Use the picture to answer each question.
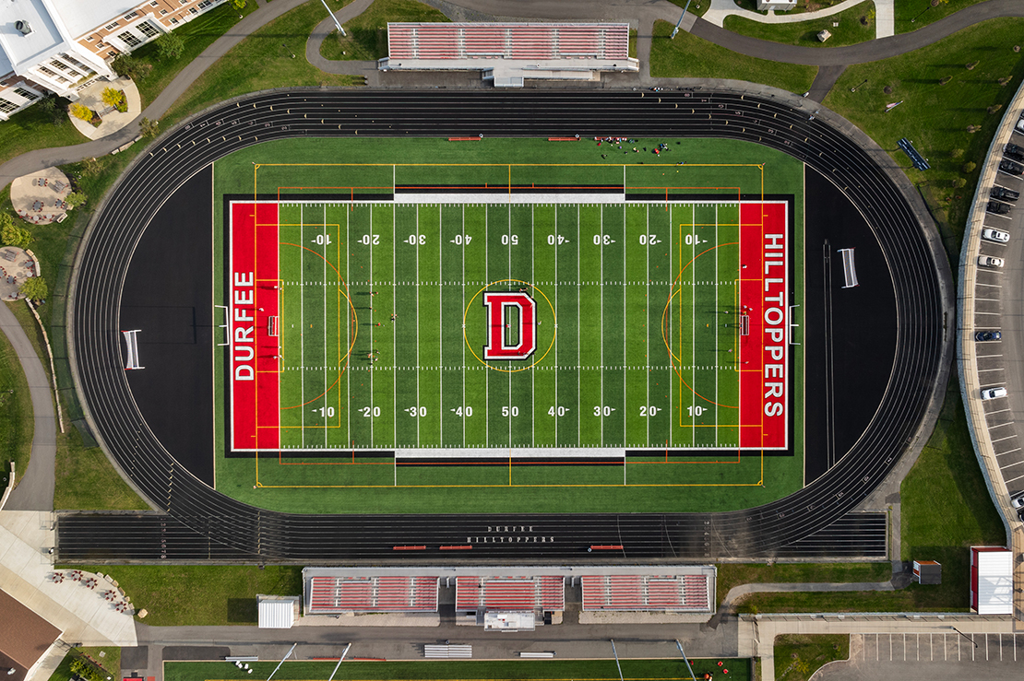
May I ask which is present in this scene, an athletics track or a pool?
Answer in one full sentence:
I can see an athletics track in this picture.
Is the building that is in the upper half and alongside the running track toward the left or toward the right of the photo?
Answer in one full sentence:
It is on the left.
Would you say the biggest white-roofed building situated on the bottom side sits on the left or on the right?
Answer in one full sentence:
The biggest white-roofed building situated on the bottom side sits on the right side.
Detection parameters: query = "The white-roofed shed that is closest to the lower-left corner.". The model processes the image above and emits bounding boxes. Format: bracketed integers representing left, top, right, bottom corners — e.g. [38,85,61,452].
[259,599,294,628]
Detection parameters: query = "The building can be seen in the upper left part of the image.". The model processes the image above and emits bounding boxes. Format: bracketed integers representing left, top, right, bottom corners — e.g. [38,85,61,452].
[0,0,222,118]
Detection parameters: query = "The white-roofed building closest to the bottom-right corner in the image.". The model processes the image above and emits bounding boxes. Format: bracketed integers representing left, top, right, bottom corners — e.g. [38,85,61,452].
[972,540,1012,614]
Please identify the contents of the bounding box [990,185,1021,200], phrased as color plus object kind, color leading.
black vehicle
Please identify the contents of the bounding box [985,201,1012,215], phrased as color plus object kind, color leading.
black car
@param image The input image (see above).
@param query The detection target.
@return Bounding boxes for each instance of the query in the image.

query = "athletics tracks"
[58,91,944,560]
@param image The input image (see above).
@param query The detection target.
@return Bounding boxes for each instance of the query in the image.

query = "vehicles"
[990,185,1021,200]
[1016,119,1024,131]
[976,330,1001,342]
[981,387,1007,400]
[983,229,1010,242]
[1002,142,1024,159]
[985,201,1012,215]
[978,255,1004,267]
[998,158,1024,174]
[1010,496,1024,510]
